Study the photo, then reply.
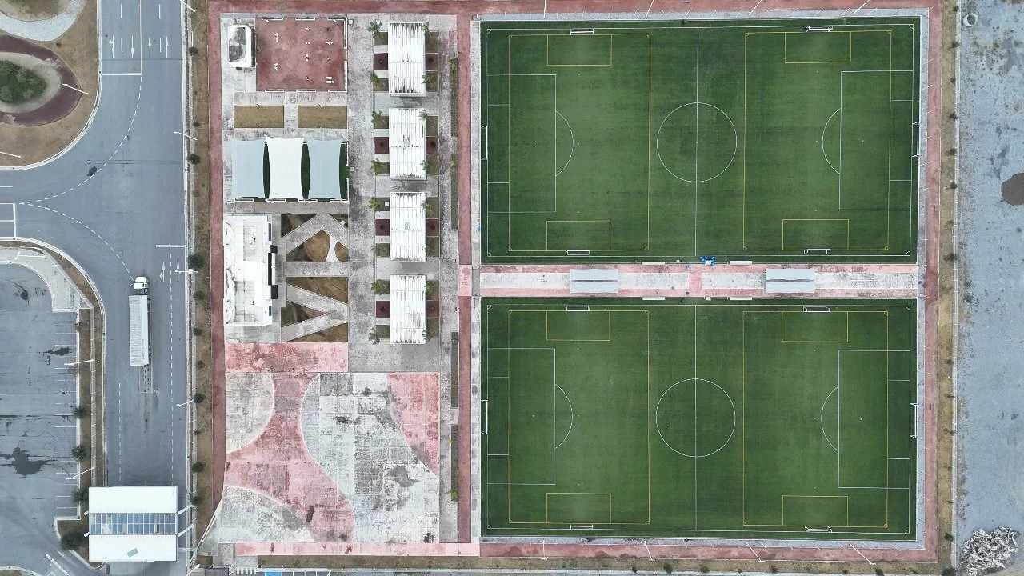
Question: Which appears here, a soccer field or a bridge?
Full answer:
Of the two, only a soccer field appears.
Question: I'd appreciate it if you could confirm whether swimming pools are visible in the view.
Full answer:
No, the picture doesn't show any swimming pool.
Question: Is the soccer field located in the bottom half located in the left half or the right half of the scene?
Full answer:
The soccer field located in the bottom half sits on the right side.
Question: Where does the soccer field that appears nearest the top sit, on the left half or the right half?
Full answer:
You can find the soccer field that appears nearest the top on the right side of the picture.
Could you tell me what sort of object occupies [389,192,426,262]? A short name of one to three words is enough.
building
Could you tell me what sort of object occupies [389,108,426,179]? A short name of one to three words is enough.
building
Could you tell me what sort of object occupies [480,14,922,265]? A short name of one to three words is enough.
soccer field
